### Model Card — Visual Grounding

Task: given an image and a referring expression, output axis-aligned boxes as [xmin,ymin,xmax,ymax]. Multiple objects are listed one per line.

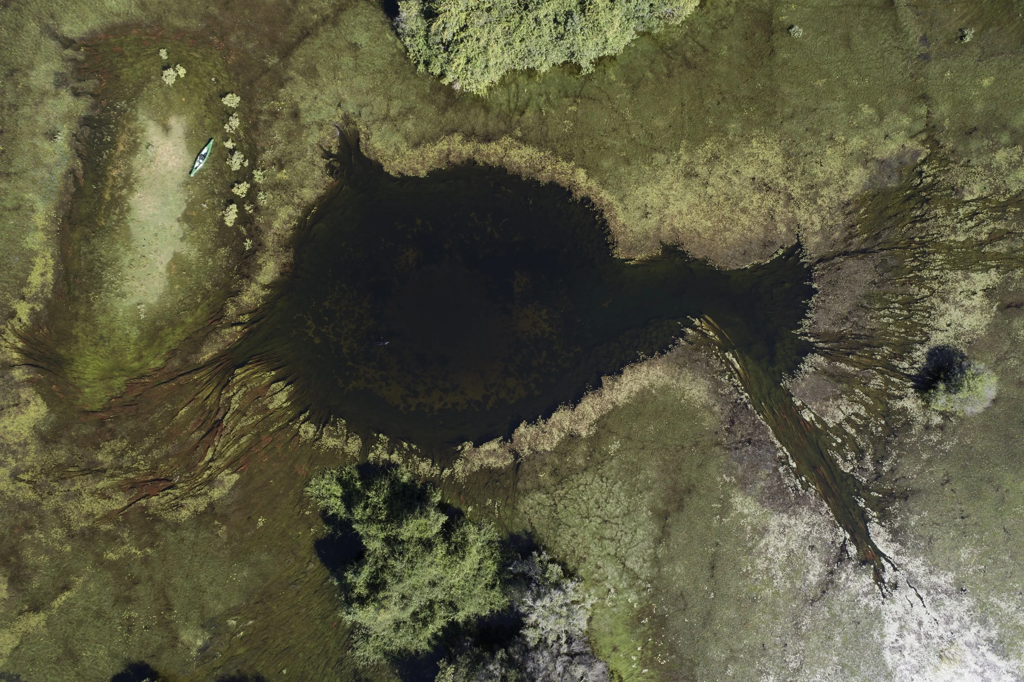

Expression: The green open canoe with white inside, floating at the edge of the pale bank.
[189,137,213,176]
